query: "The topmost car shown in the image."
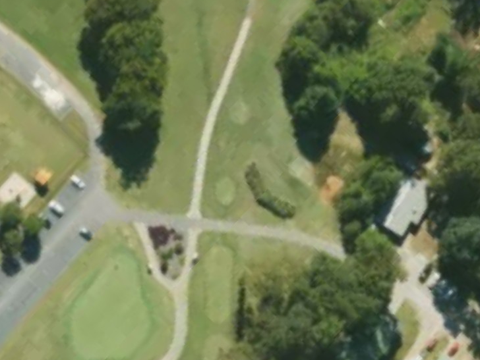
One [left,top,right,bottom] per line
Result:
[70,175,85,189]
